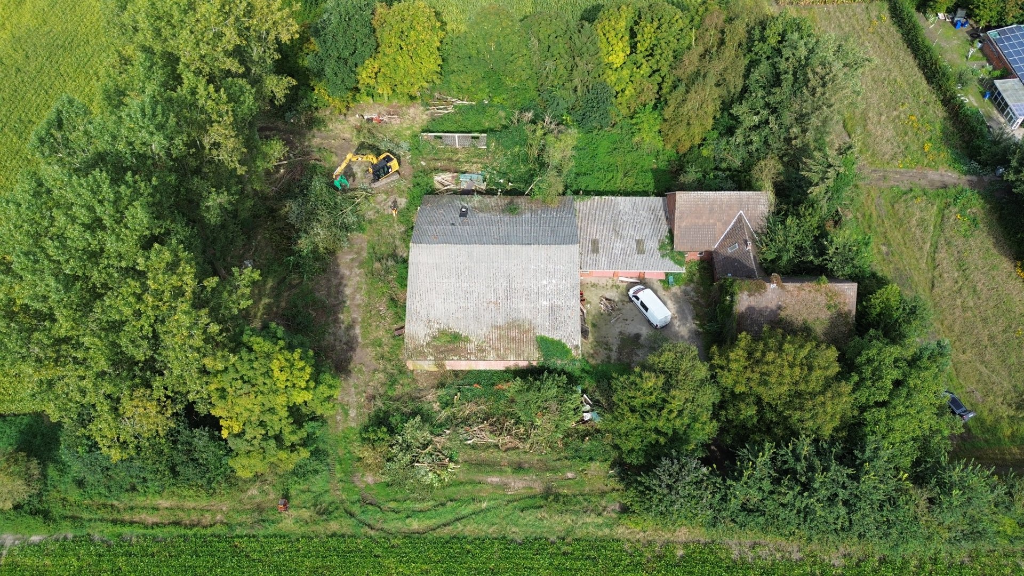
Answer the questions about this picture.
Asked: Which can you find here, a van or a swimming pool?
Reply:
van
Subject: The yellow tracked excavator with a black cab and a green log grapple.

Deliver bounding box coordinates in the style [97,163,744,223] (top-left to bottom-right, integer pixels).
[337,154,401,200]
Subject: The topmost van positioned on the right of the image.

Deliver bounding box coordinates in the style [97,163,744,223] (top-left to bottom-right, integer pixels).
[627,287,673,329]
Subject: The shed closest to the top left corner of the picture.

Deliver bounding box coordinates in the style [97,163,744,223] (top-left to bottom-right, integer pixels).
[420,133,487,151]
